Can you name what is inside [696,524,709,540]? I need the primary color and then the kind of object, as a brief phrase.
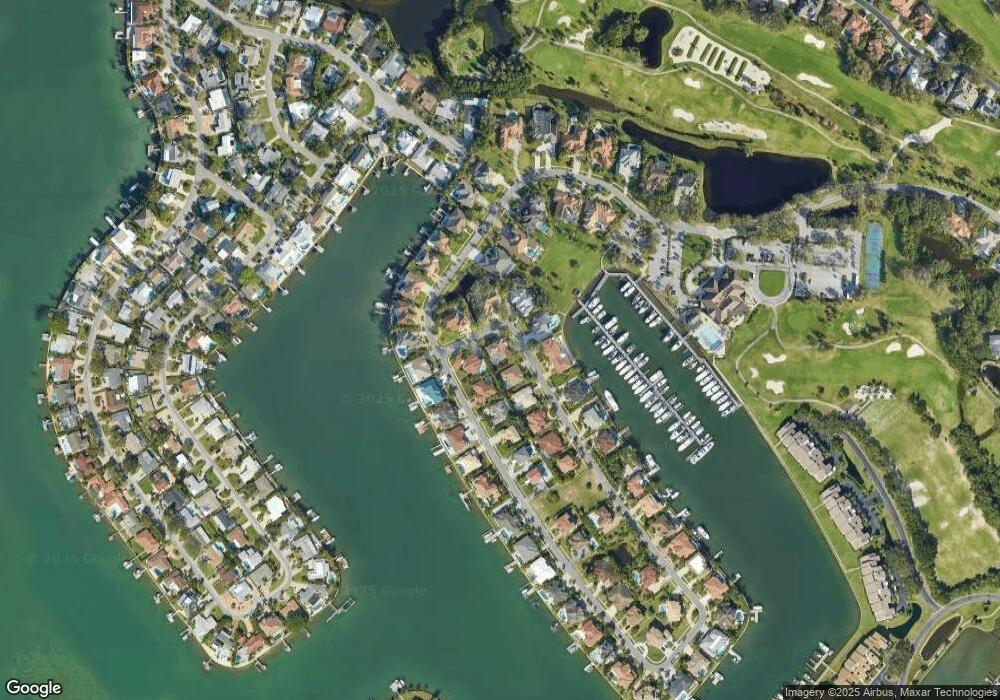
white boat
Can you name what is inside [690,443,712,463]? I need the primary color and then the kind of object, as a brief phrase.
white boat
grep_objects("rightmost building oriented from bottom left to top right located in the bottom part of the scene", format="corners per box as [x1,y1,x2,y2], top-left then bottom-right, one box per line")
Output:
[823,630,892,700]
